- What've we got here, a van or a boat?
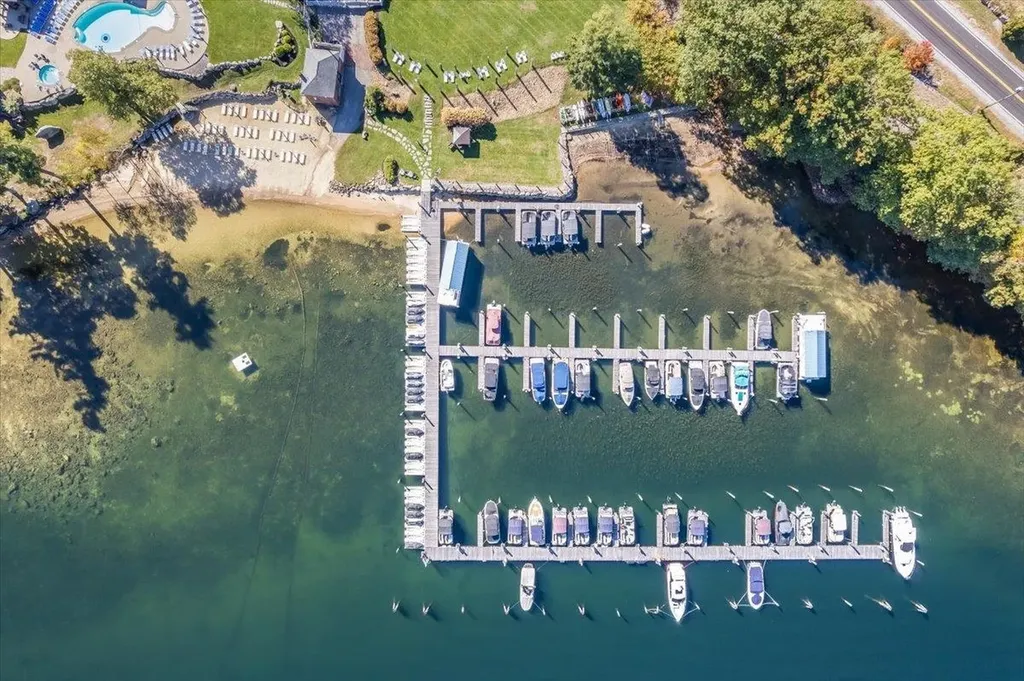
boat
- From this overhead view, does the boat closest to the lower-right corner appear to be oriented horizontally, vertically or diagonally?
vertically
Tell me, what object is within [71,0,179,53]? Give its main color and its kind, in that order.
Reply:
white swimming pool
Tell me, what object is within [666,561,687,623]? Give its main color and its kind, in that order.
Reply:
white boat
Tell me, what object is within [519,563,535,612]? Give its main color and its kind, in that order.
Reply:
white boat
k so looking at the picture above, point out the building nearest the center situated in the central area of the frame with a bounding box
[437,239,470,308]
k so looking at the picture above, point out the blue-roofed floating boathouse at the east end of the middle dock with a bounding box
[793,313,826,380]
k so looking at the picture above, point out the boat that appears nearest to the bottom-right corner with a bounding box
[891,503,919,580]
